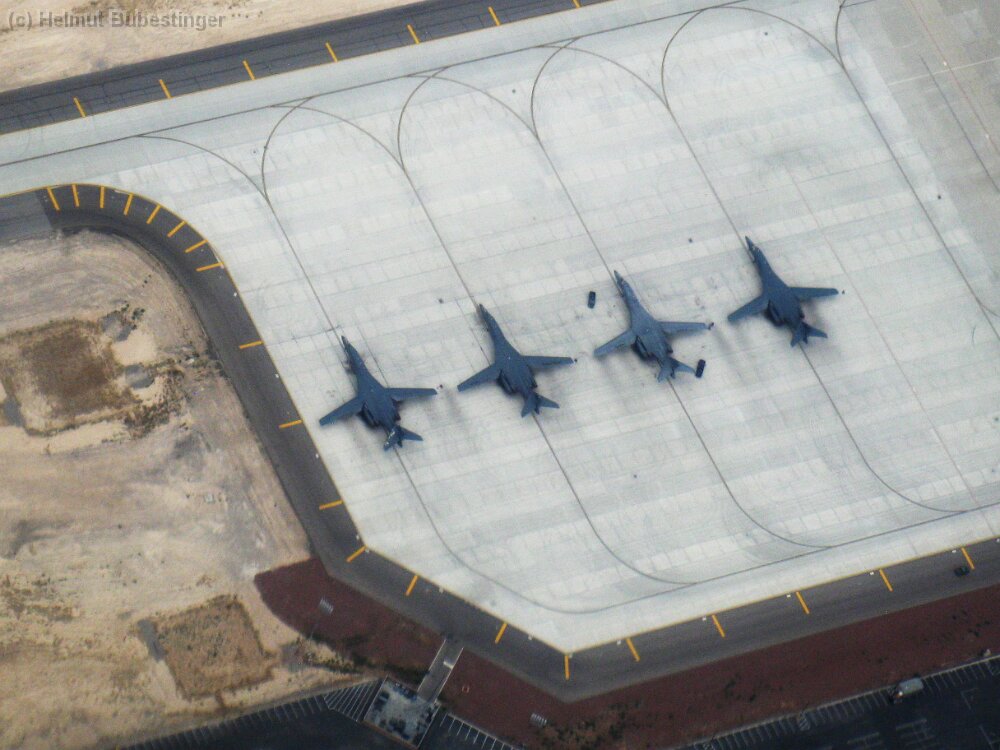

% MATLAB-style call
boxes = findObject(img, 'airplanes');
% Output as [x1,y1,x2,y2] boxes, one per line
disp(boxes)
[596,270,710,381]
[319,337,438,449]
[459,304,576,416]
[728,237,840,345]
